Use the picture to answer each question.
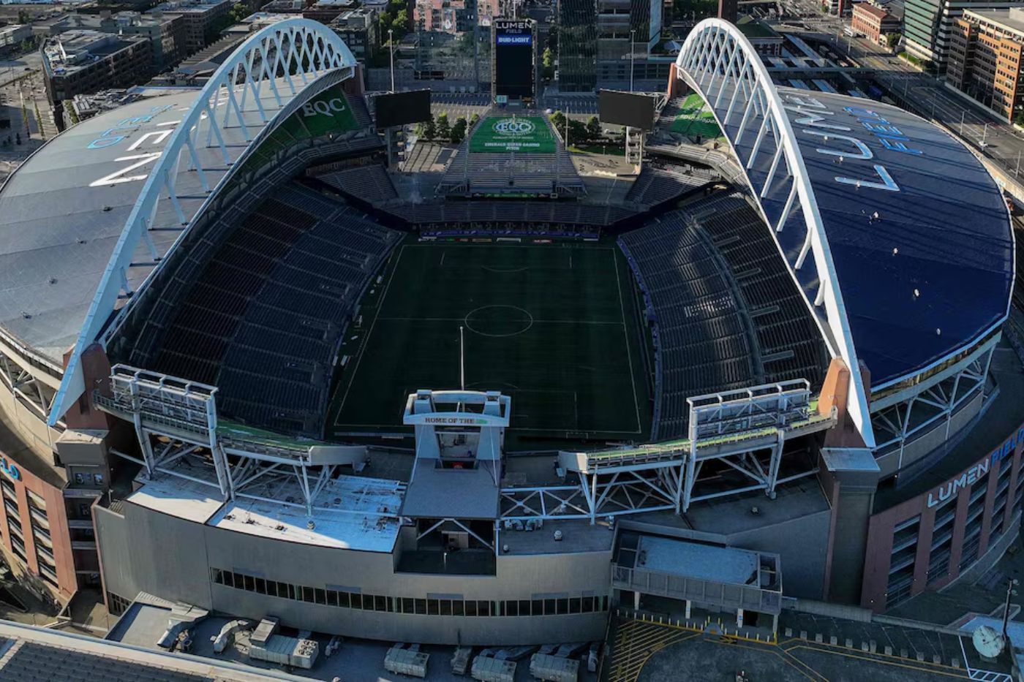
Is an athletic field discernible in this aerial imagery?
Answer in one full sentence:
Yes, you can see an athletic field in this photo.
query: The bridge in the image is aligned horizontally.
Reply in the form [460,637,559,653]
[699,66,940,84]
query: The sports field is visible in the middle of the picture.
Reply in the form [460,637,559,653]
[320,233,658,441]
